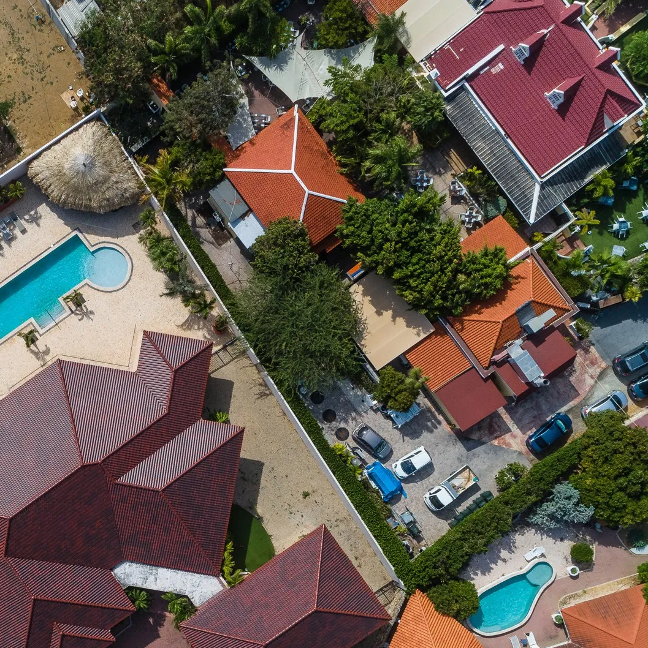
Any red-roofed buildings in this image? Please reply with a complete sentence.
Yes, the photo shows a red-roofed building.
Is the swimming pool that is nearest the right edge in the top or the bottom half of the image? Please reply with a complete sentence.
It is in the bottom half that the swimming pool that is nearest the right edge appears.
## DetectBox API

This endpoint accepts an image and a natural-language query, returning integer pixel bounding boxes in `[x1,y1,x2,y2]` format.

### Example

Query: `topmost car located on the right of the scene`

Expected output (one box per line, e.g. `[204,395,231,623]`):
[607,340,648,380]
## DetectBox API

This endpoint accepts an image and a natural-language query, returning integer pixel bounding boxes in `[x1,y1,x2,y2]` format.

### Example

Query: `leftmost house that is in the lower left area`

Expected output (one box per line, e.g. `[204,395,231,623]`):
[0,330,246,648]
